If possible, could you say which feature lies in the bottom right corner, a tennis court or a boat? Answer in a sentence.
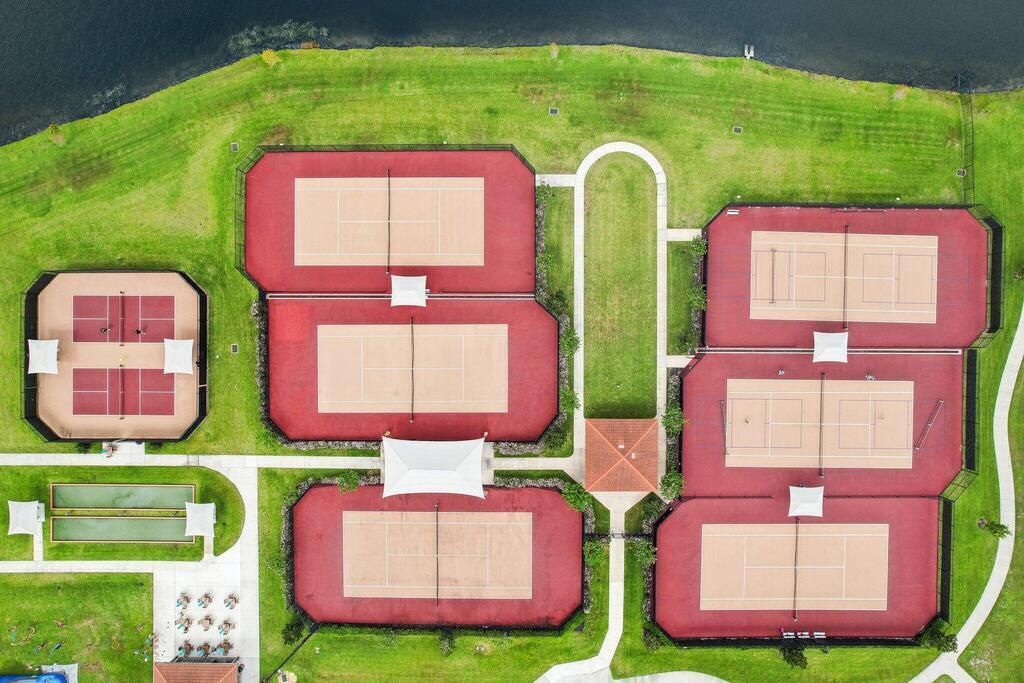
You can see a tennis court in the bottom right corner.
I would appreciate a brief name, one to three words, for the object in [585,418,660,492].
building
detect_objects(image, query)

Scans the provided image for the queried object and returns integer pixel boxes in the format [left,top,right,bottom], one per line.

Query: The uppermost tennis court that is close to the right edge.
[700,206,988,349]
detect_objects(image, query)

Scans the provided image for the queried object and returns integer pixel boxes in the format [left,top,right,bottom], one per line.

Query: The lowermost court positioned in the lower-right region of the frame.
[654,497,939,638]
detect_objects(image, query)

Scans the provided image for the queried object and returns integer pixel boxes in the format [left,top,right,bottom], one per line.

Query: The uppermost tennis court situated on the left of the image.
[246,150,535,293]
